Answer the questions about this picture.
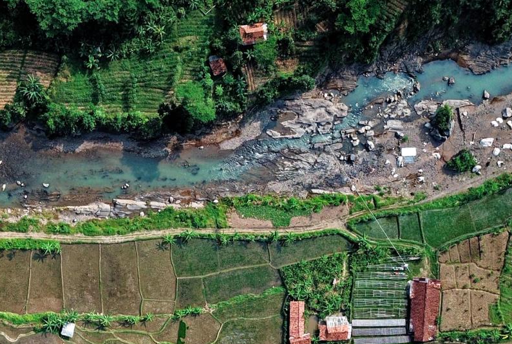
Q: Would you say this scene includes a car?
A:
No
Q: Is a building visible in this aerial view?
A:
Yes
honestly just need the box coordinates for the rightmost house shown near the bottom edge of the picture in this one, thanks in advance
[403,276,438,343]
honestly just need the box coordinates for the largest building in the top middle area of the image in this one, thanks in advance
[237,22,268,51]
